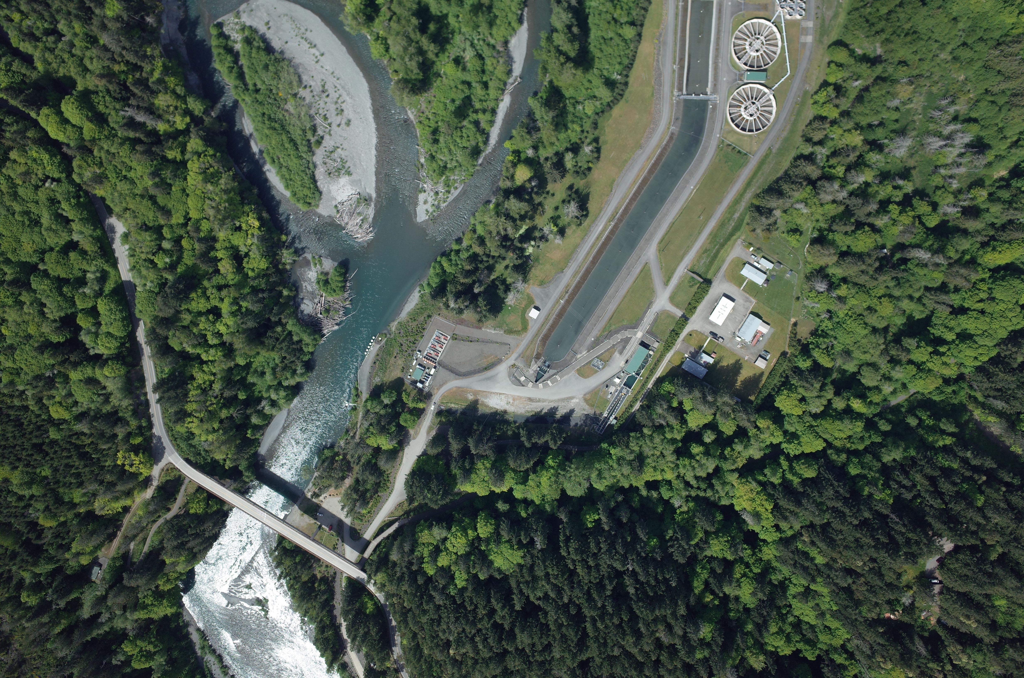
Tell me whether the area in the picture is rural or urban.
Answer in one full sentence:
From above, the setting appears rural.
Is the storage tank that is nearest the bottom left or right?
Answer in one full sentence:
You can find the storage tank that is nearest the bottom on the right side of the picture.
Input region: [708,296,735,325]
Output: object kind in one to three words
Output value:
building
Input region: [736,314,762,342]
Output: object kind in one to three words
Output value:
building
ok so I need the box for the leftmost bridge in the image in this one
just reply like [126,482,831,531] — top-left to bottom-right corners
[165,449,375,589]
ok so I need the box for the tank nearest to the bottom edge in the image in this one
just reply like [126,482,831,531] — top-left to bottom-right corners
[726,84,777,135]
